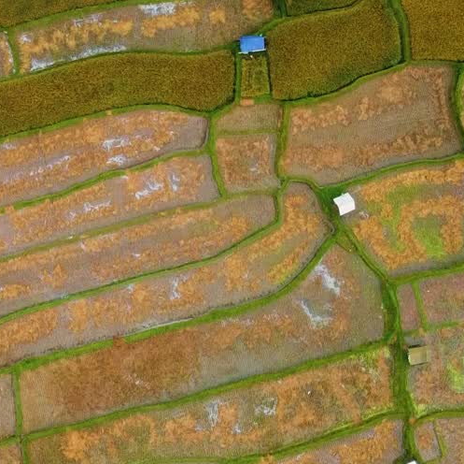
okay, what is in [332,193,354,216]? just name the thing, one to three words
shed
